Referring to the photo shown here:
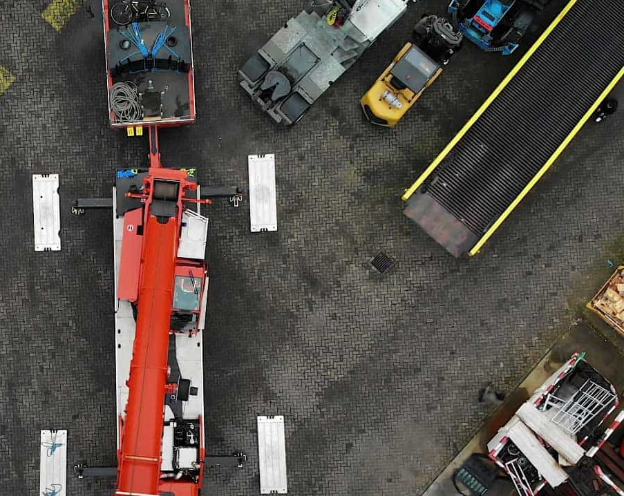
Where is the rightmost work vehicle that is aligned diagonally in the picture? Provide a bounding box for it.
[360,14,463,127]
